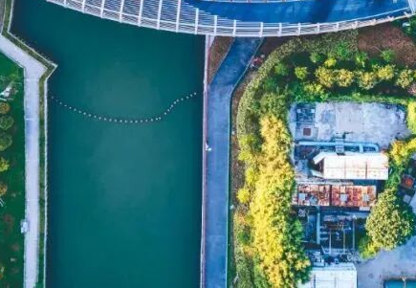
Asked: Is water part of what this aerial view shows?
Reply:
Yes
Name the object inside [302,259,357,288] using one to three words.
shed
